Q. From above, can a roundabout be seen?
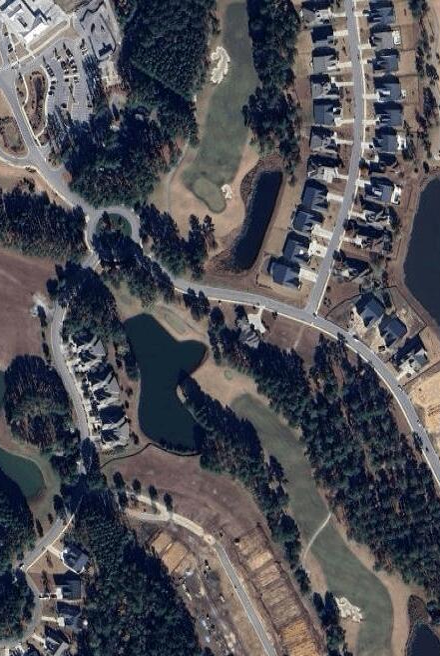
Yes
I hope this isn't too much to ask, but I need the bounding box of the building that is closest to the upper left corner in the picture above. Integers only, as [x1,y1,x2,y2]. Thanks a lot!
[0,0,67,45]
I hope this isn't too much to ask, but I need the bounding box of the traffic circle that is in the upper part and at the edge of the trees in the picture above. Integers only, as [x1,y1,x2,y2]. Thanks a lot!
[89,205,140,253]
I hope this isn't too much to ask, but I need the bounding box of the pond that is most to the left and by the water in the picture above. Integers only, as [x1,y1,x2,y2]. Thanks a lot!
[125,313,206,456]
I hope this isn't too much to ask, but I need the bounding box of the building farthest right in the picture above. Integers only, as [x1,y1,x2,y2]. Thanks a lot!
[399,336,430,368]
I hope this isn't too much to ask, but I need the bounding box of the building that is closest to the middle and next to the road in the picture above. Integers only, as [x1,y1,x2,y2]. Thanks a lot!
[234,311,262,348]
